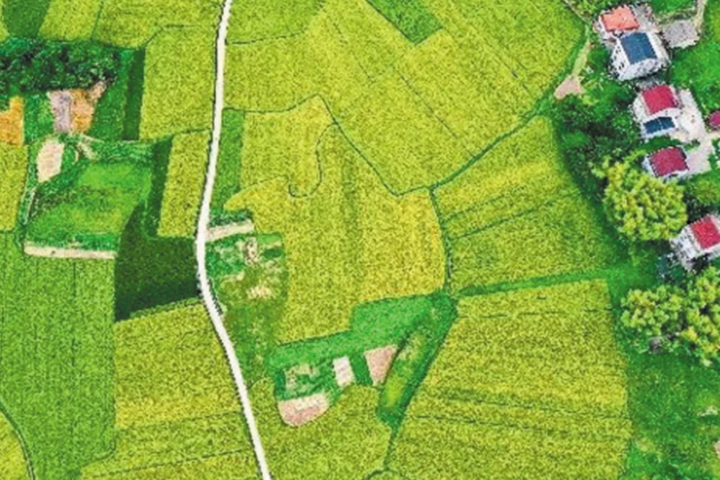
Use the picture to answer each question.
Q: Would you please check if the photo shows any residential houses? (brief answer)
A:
Yes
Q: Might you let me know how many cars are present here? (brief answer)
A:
none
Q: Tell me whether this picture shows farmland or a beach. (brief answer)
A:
farmland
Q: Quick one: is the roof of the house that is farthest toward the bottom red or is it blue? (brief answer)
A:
red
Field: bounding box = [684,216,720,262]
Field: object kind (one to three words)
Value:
house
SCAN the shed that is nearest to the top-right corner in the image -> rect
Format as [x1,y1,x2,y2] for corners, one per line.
[666,18,702,44]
